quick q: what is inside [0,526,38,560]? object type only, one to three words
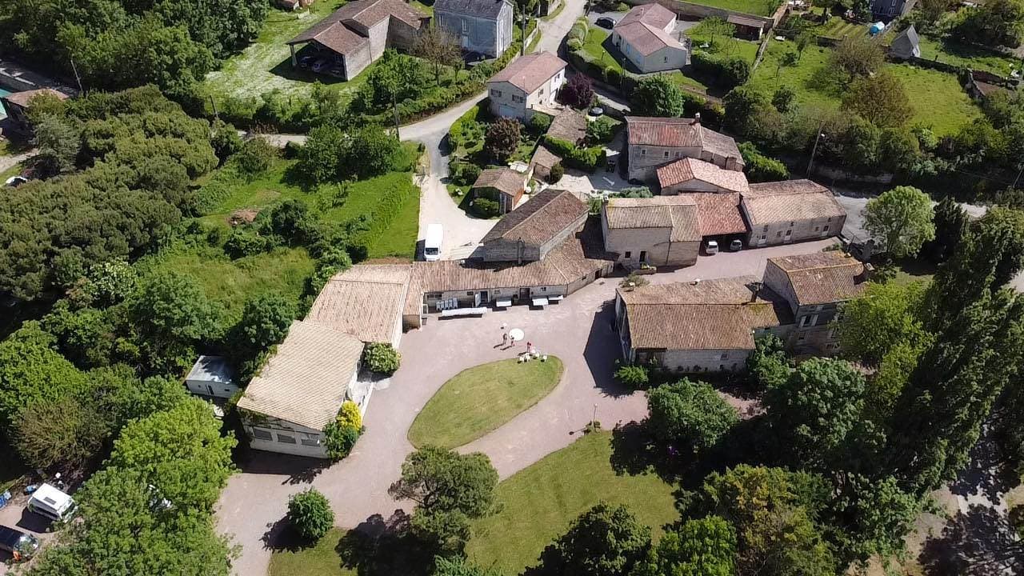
car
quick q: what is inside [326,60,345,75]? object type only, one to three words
car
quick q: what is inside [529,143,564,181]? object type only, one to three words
shed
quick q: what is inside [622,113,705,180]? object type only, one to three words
house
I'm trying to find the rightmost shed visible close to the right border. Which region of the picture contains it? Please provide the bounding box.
[969,80,1009,106]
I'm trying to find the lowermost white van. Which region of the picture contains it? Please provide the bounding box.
[28,482,80,526]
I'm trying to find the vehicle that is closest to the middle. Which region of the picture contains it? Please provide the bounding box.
[423,226,443,260]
